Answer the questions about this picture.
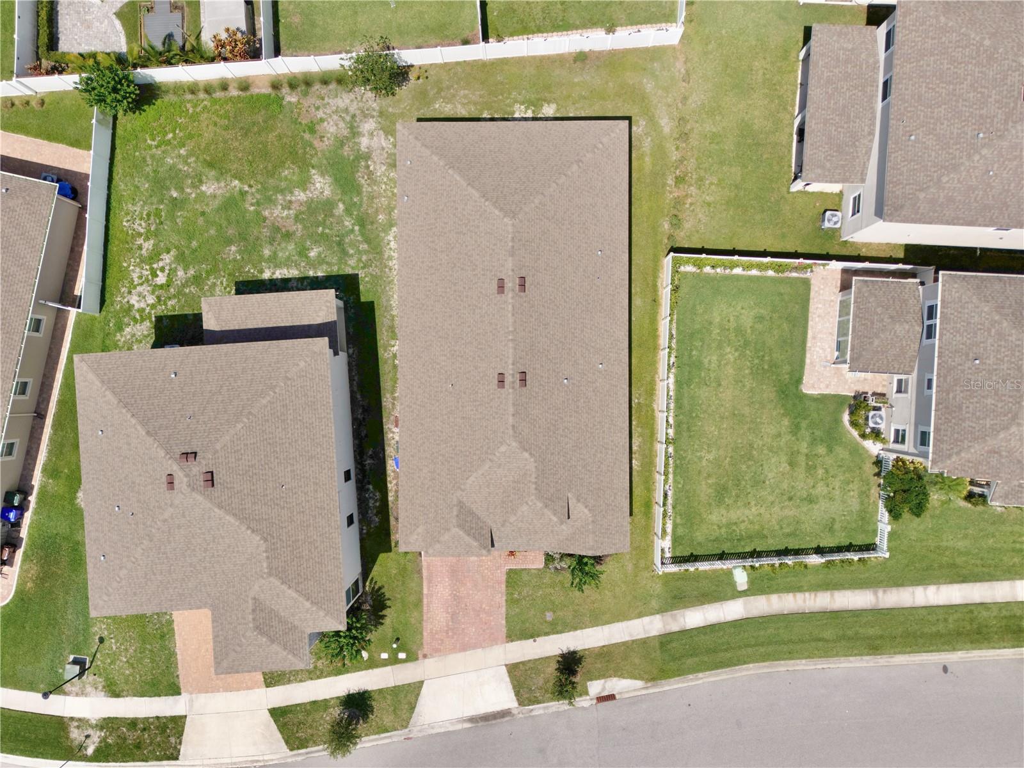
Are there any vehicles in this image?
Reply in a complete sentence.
No, there's no vehicle here.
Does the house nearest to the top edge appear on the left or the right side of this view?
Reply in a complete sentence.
It is on the right.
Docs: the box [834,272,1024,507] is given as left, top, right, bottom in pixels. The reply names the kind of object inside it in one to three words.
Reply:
house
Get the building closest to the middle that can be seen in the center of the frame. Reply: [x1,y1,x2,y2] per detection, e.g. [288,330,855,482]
[396,119,630,557]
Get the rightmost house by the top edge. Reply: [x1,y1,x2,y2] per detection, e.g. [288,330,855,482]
[792,0,1024,248]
